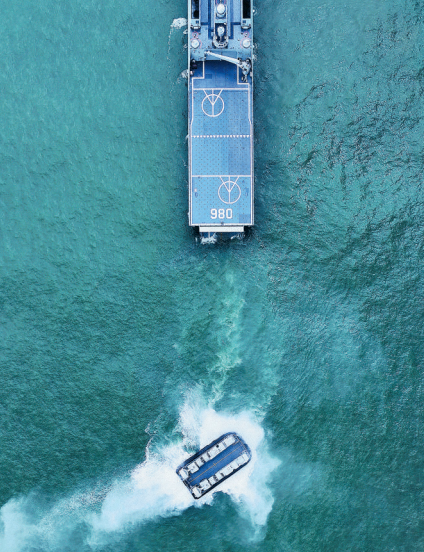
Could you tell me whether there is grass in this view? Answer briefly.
No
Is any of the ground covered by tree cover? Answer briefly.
No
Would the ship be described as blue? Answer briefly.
Yes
